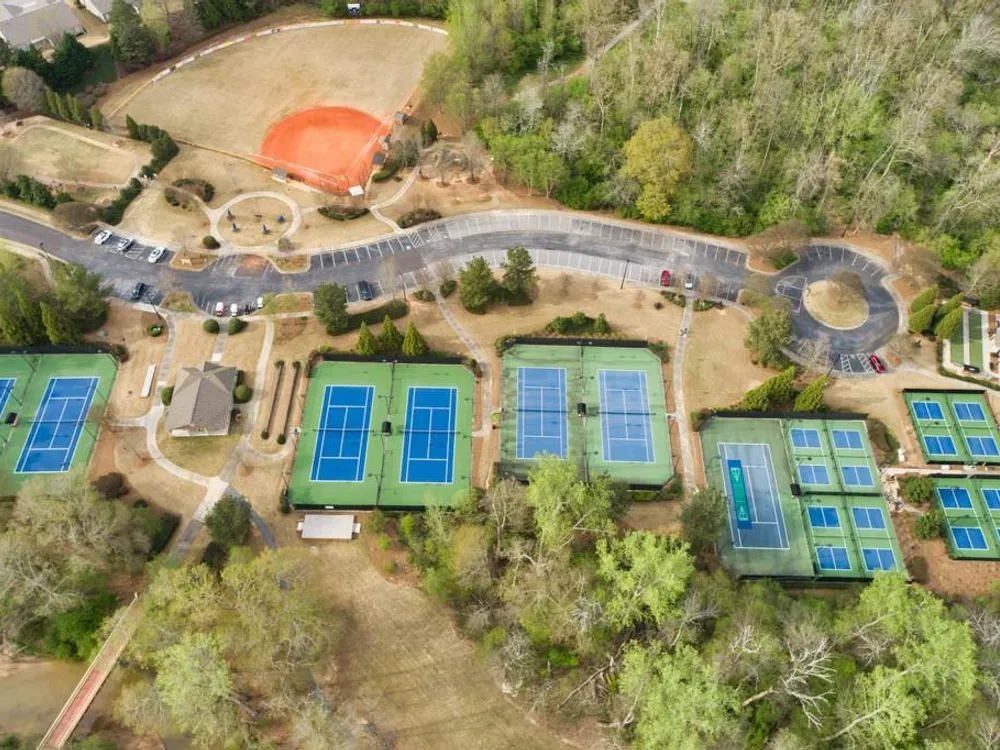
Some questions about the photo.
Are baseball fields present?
Yes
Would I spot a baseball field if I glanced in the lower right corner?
No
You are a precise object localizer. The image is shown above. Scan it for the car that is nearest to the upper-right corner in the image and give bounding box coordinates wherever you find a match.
[868,355,886,374]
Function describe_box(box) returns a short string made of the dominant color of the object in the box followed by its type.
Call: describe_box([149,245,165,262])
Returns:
white car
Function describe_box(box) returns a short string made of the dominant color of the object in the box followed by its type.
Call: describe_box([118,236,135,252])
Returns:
white car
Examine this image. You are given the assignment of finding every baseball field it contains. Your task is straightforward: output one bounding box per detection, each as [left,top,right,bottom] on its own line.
[117,24,446,194]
